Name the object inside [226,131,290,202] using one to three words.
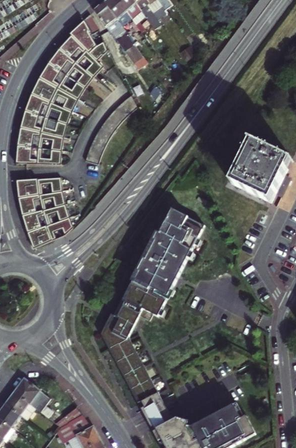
building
